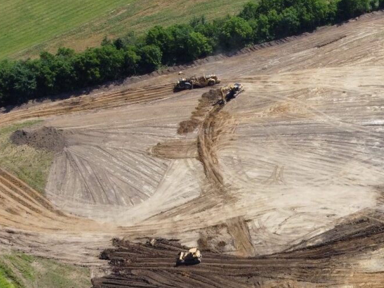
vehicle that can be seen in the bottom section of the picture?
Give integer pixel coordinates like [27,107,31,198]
[175,246,200,265]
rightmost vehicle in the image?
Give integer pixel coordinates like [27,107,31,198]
[213,81,246,100]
